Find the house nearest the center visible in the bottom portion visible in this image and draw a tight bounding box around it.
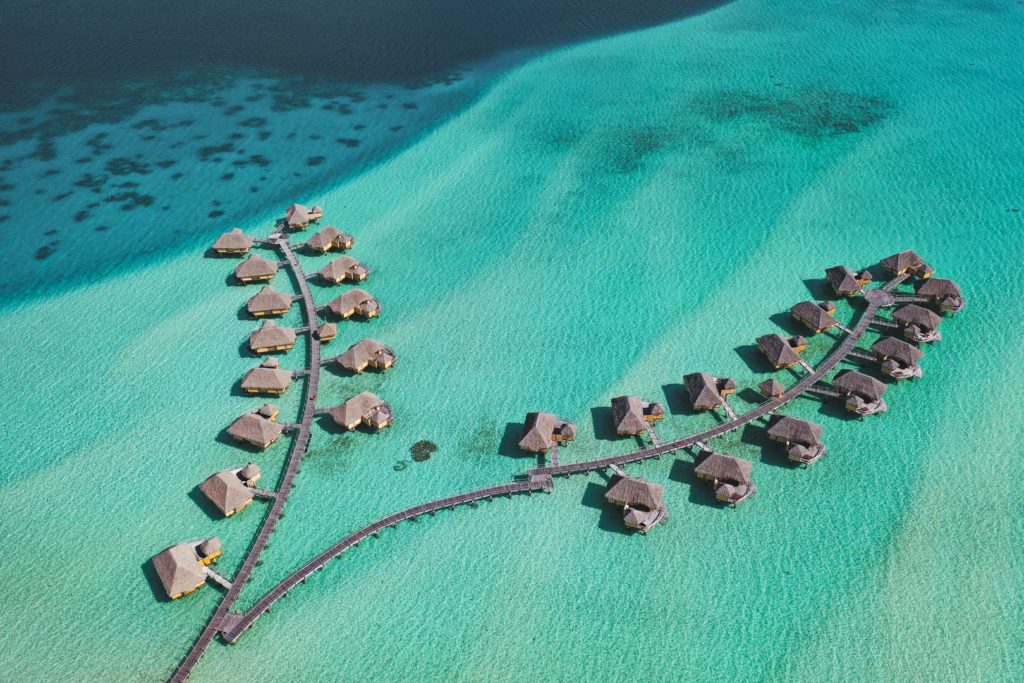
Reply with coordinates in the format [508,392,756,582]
[522,413,577,461]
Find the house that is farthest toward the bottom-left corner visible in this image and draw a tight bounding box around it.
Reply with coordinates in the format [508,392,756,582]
[152,539,224,607]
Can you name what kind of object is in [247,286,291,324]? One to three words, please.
house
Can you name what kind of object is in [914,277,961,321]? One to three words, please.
house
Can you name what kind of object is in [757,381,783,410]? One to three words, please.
shed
